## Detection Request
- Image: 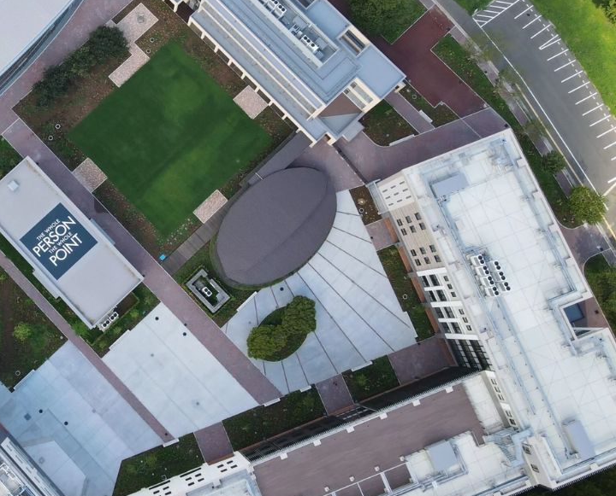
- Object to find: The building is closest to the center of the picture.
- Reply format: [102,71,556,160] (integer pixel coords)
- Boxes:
[210,167,335,290]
